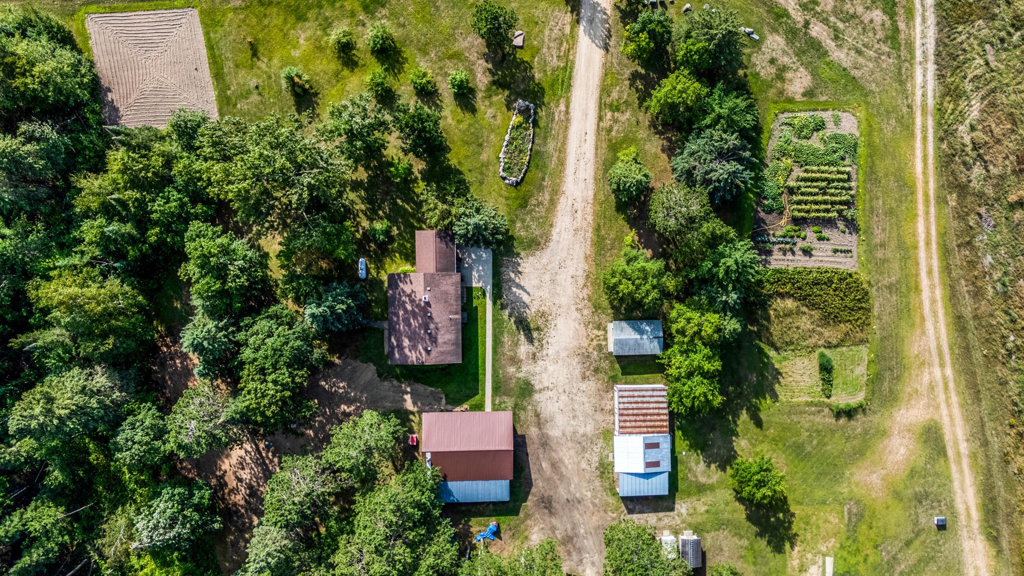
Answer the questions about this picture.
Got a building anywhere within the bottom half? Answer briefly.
Yes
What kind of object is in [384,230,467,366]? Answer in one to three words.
house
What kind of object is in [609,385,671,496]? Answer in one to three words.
shed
